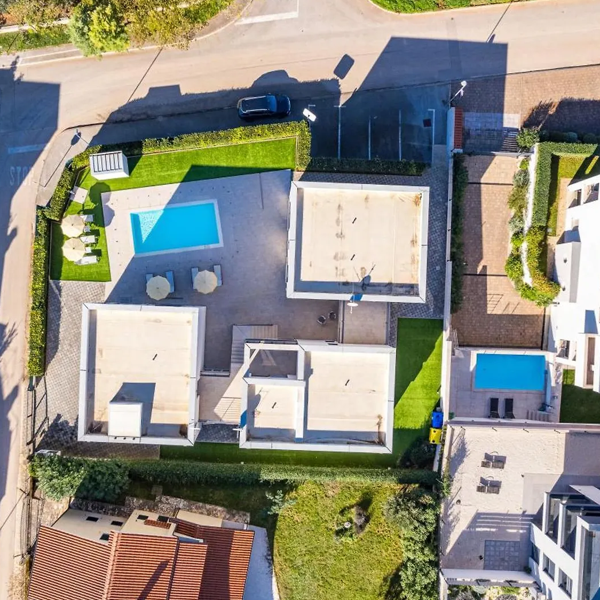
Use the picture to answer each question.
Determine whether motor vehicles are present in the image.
Yes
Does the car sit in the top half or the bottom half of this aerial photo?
top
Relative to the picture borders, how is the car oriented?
from left to right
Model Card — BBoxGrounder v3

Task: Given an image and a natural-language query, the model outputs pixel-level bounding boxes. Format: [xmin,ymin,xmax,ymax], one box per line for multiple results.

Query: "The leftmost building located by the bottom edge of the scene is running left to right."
[21,500,254,600]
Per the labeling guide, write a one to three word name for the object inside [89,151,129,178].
building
